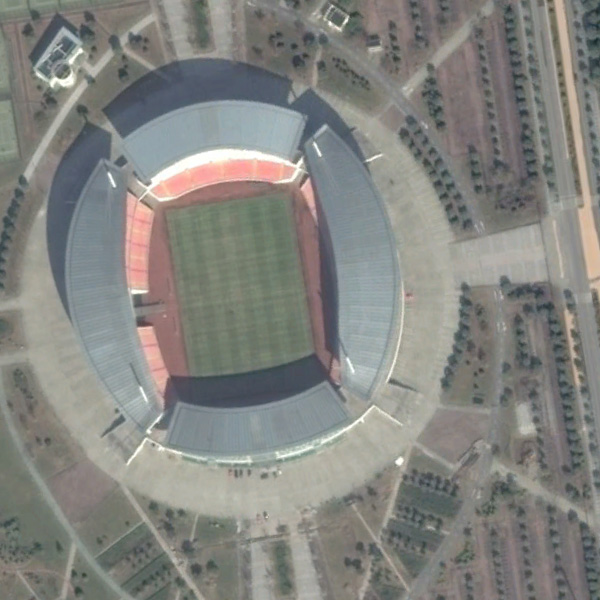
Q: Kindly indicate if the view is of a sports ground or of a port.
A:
sports ground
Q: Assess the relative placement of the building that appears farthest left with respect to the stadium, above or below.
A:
above it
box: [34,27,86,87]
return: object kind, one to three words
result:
building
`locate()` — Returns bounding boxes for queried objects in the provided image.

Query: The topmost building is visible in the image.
[325,5,350,33]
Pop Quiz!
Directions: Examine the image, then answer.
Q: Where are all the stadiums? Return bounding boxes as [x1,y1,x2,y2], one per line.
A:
[66,100,420,466]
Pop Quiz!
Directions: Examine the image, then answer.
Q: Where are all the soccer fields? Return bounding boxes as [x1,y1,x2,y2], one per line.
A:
[130,165,336,407]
